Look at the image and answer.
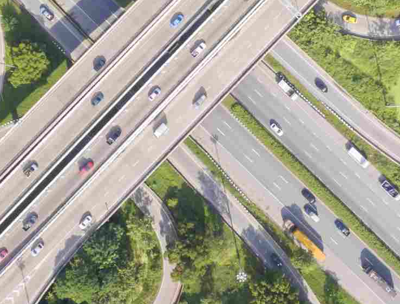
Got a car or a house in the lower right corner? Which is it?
car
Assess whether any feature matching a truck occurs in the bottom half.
Yes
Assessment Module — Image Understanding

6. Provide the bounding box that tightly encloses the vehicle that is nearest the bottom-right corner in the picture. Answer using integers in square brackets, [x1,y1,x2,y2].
[359,260,398,299]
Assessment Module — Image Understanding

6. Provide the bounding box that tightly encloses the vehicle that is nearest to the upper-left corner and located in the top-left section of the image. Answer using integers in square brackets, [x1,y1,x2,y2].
[40,5,55,22]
